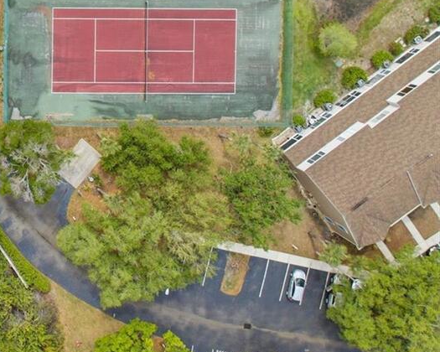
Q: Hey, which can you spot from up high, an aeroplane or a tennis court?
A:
tennis court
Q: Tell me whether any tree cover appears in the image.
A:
Yes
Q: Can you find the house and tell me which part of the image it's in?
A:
right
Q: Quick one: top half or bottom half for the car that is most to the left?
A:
bottom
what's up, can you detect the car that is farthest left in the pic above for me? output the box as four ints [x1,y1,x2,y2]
[284,266,307,303]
